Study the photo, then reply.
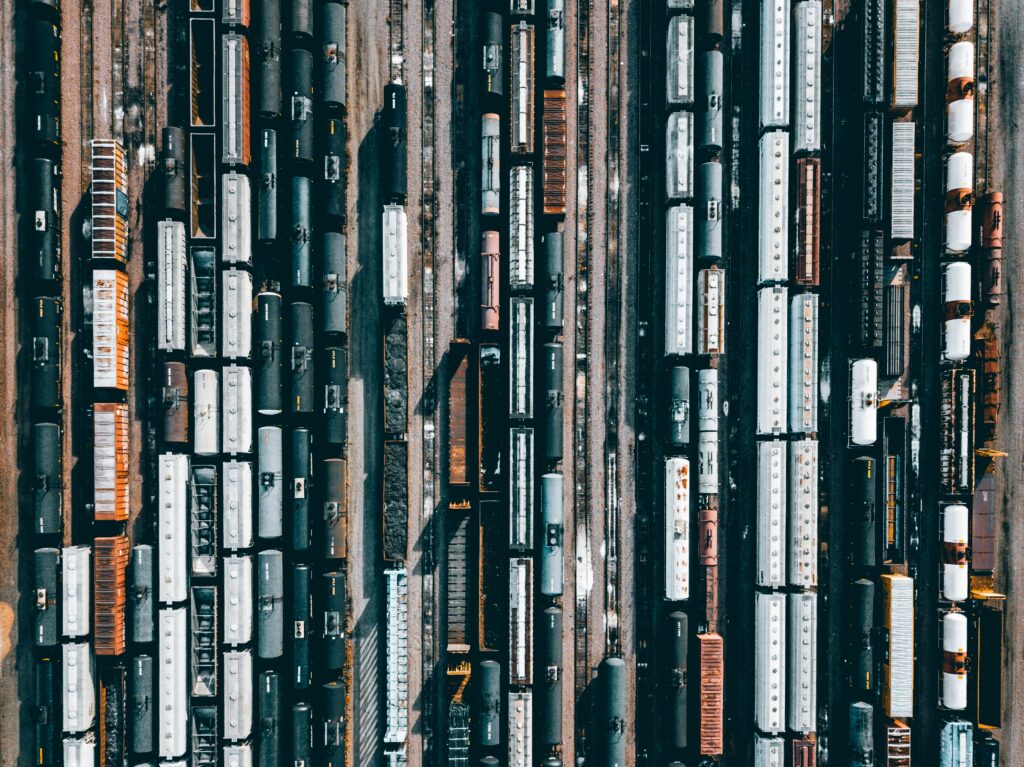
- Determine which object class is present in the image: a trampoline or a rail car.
rail car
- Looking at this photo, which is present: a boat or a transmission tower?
boat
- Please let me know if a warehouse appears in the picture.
No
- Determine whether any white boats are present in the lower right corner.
No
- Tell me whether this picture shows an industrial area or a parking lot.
parking lot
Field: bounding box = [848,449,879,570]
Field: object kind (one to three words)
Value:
rail car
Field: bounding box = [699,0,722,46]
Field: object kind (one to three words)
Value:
rail car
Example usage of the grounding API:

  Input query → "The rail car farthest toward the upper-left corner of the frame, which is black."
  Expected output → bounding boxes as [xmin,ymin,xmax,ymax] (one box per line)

[31,0,61,21]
